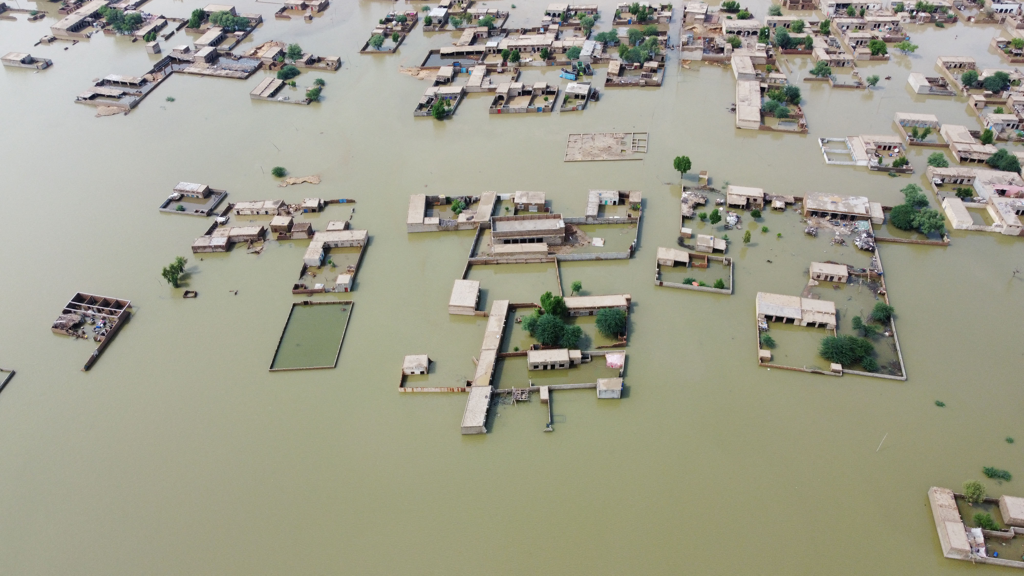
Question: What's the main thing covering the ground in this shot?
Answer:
water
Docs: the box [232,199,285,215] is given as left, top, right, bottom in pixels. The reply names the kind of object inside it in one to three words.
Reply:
house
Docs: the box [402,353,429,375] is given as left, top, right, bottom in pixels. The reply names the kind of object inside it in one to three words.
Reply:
house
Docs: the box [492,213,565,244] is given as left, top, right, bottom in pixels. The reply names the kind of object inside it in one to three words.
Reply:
building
